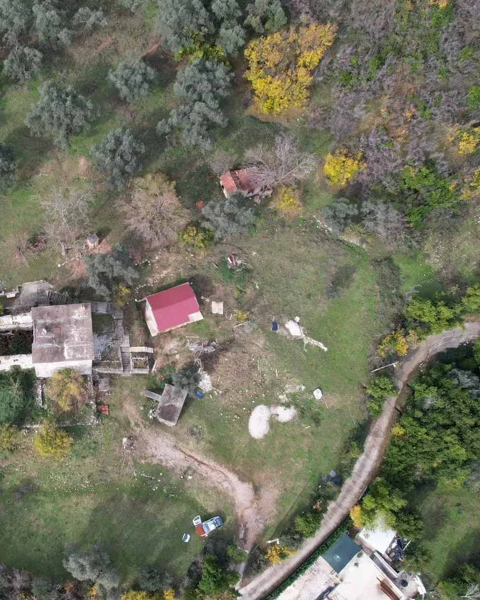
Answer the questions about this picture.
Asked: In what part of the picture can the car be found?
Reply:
bottom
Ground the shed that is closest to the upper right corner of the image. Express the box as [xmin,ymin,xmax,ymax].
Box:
[219,167,271,204]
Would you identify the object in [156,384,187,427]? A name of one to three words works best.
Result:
shed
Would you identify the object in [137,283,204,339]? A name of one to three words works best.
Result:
shed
